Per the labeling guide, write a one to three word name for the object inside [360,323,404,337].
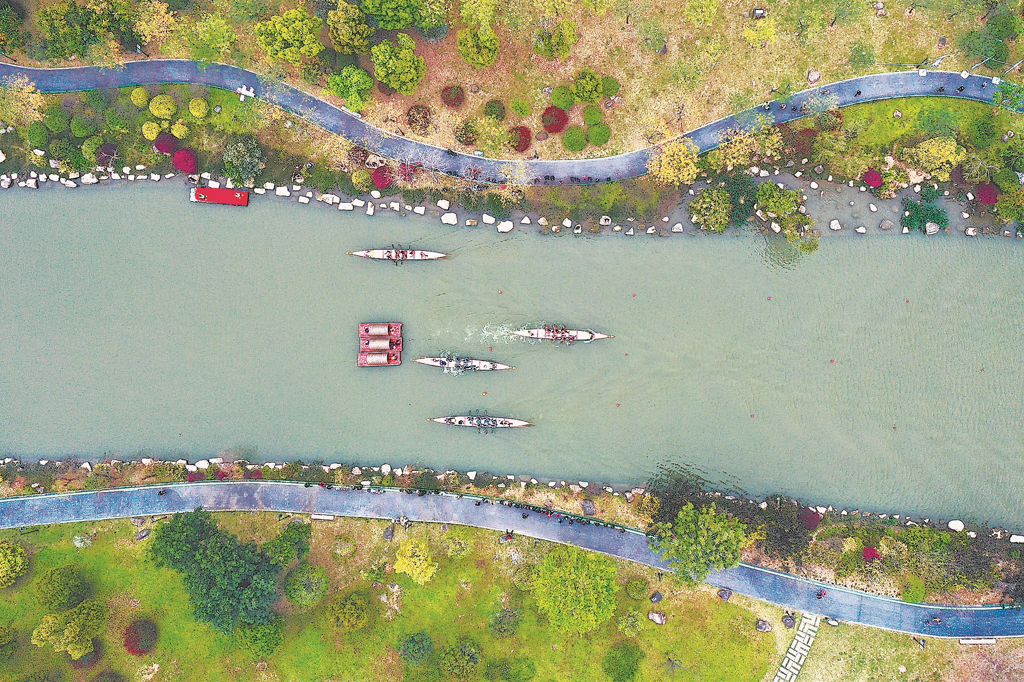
boat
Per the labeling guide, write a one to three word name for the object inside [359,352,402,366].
boat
